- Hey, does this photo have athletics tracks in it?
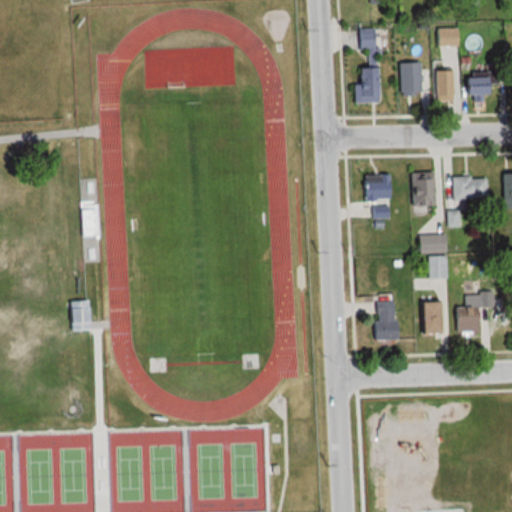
Yes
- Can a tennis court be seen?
Yes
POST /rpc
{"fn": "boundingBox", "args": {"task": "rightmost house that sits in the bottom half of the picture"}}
[456,290,496,338]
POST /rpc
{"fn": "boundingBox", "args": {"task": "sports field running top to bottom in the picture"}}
[120,30,274,402]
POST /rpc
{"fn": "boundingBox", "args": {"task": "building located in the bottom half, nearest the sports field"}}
[71,300,92,332]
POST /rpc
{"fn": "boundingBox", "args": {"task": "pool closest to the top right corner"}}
[464,34,483,54]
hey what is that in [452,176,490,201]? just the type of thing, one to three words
house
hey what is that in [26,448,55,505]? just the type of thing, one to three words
tennis court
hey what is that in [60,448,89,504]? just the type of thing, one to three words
tennis court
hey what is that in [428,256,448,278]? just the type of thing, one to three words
building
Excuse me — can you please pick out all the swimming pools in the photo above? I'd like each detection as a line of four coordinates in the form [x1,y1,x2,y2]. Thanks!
[410,44,422,56]
[464,34,483,54]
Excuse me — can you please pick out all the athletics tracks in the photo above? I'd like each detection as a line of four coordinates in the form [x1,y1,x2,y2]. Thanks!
[97,9,298,422]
